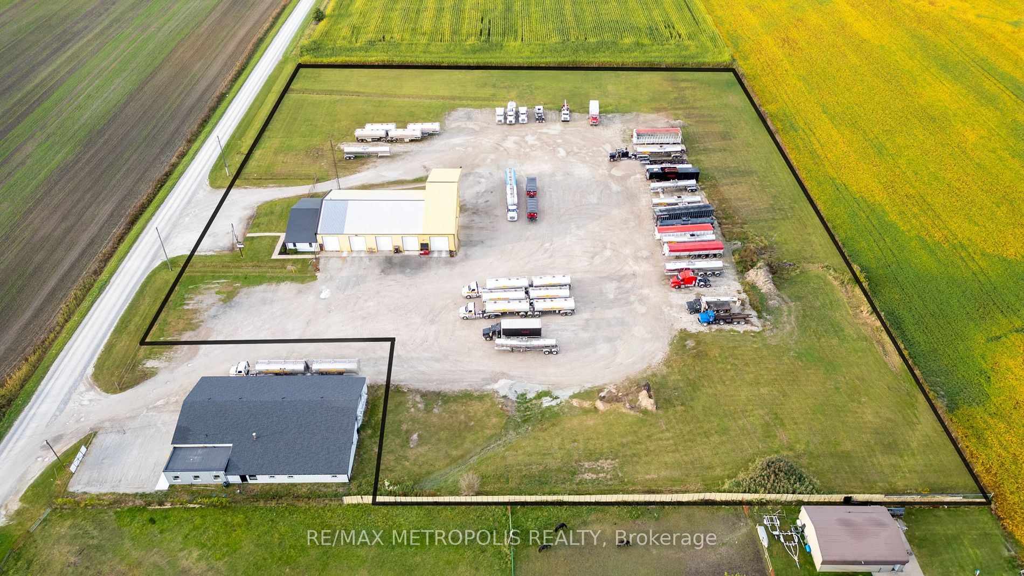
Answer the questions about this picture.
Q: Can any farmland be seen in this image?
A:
Yes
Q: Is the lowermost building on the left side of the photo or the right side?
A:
right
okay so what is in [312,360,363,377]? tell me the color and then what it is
white trailer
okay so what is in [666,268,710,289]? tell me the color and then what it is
red truck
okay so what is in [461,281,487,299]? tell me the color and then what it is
white vehicle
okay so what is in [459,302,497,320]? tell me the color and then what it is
white vehicle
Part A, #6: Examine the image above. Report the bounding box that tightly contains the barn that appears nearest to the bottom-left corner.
[160,377,370,483]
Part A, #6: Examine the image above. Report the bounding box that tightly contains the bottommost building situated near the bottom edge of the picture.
[799,505,913,573]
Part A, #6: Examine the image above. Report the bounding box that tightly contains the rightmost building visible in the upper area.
[312,167,463,251]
